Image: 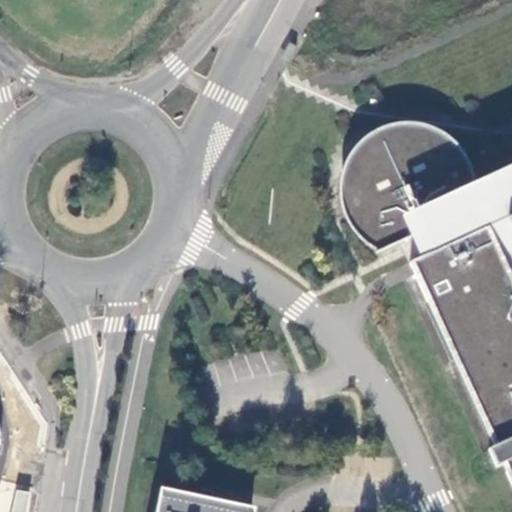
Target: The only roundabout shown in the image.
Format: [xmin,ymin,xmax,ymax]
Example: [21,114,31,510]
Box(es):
[0,86,202,307]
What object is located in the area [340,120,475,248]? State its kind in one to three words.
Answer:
building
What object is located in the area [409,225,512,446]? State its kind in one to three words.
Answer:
building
